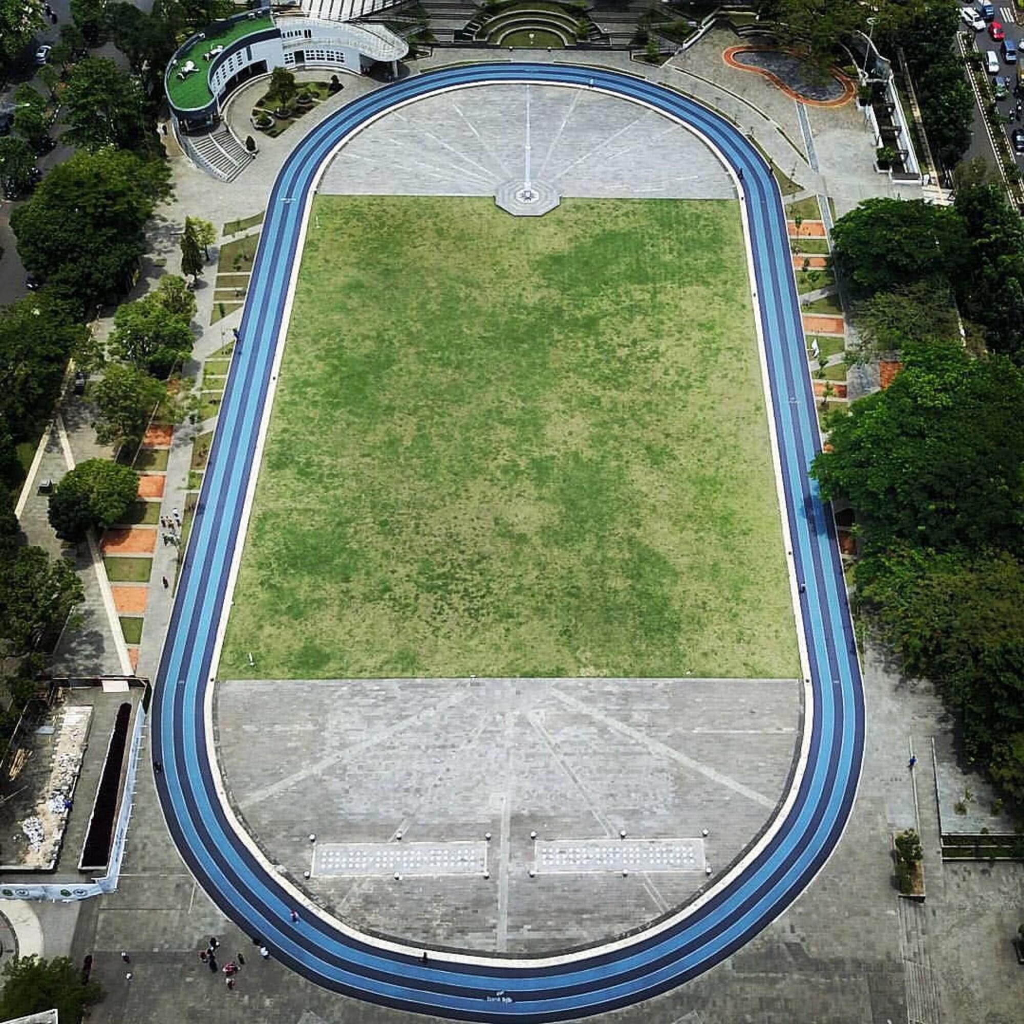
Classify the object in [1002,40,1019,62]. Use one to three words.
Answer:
vehicle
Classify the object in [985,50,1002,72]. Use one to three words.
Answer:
vehicle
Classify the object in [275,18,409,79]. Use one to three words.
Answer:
building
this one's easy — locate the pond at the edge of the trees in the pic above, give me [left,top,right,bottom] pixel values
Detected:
[723,44,855,106]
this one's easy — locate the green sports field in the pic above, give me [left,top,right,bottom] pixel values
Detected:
[214,194,800,681]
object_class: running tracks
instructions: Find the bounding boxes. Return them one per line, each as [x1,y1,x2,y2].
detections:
[147,61,867,1024]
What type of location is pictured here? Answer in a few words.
sports ground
